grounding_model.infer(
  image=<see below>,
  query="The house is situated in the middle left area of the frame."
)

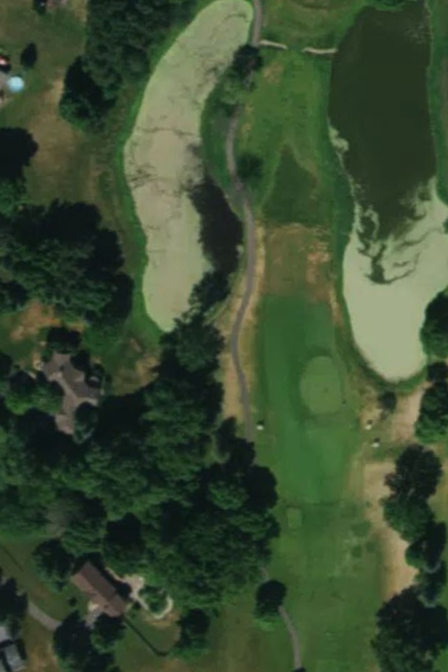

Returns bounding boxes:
[39,356,102,435]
